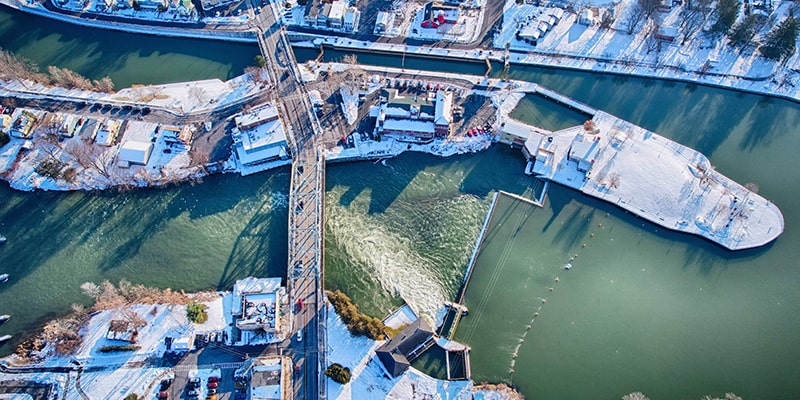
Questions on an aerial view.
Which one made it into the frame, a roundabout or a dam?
dam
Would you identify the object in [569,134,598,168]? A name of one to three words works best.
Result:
building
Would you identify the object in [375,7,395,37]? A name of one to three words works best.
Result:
building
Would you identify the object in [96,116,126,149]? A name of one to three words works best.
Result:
house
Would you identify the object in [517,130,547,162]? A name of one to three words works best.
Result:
house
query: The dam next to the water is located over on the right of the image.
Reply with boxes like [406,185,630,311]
[445,180,551,303]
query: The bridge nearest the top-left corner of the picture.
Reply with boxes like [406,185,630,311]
[261,30,315,72]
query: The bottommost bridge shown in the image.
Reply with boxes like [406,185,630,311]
[291,146,327,306]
